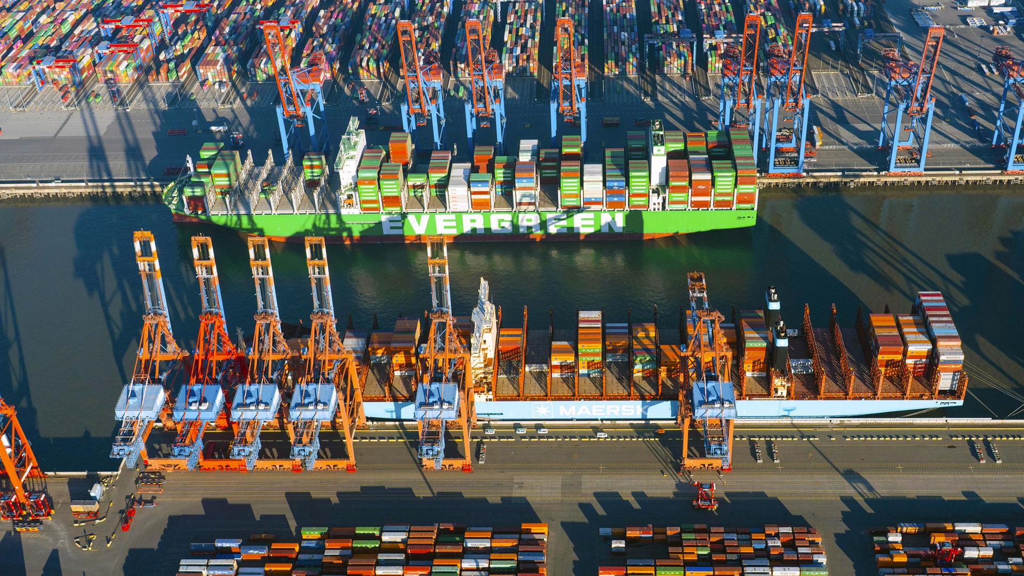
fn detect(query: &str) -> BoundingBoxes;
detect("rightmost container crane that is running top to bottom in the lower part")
[672,271,741,474]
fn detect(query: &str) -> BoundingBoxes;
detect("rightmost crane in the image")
[988,45,1024,170]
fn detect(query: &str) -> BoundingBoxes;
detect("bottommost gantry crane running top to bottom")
[0,392,43,529]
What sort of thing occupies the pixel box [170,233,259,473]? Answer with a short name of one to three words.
container crane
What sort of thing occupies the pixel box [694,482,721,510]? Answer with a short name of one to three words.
work vehicle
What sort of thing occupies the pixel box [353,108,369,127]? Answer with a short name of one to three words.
work vehicle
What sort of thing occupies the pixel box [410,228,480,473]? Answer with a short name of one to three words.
container crane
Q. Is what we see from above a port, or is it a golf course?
port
